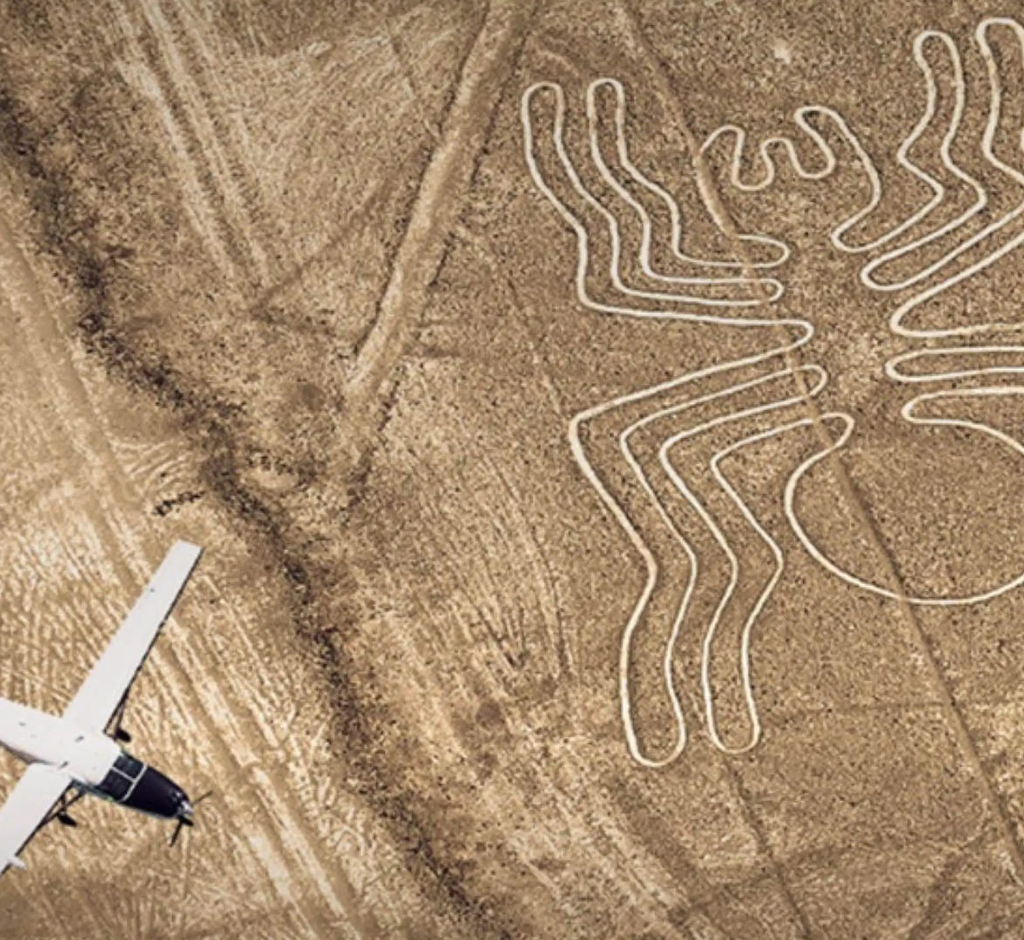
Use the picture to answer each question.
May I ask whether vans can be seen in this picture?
No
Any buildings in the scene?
No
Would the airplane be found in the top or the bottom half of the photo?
bottom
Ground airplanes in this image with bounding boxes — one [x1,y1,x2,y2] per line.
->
[0,540,214,876]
